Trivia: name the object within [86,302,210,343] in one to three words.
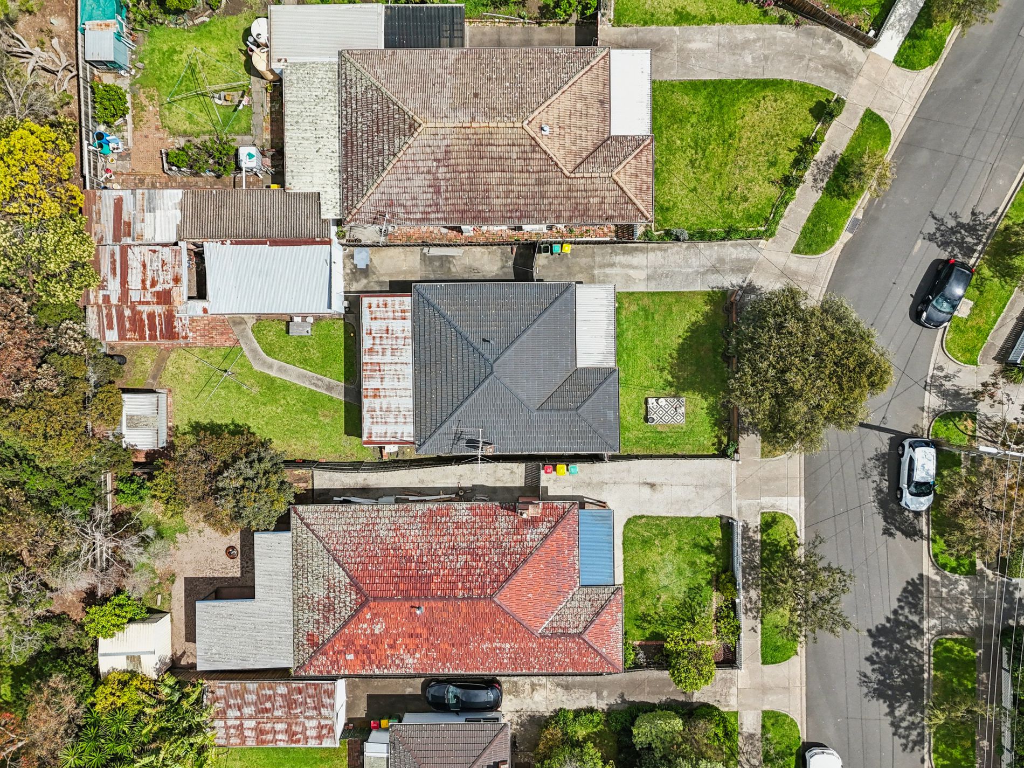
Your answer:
shed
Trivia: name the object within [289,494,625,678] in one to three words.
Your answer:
house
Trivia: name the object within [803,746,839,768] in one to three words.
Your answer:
car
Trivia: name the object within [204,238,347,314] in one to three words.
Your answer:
building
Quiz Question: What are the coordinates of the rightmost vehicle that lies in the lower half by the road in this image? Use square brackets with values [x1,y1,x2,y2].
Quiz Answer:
[897,438,939,509]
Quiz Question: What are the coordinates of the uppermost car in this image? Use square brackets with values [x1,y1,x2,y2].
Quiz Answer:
[918,256,979,327]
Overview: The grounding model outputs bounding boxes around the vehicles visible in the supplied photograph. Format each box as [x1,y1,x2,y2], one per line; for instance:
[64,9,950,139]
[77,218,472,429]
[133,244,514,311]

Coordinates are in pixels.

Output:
[803,746,839,768]
[918,256,979,327]
[425,677,502,718]
[897,438,939,509]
